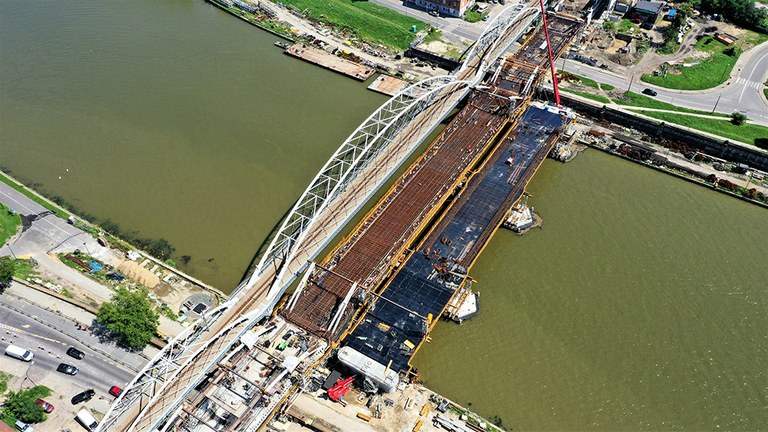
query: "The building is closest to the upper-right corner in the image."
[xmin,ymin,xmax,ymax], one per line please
[633,1,664,22]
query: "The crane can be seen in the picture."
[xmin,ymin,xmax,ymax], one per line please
[532,0,578,117]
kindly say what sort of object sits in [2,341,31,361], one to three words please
vehicle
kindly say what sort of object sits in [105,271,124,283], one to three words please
vehicle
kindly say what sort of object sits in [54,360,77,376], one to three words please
car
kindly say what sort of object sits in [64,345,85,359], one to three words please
car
